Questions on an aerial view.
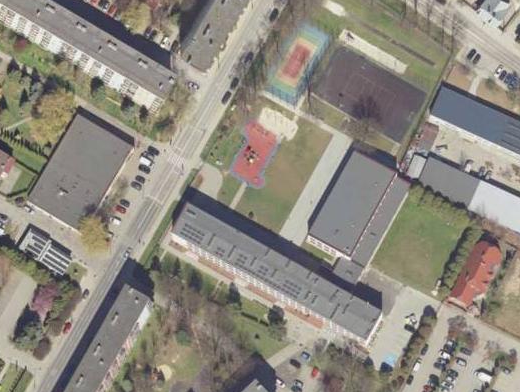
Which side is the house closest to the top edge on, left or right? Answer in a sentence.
It is on the right.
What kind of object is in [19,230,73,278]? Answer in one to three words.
building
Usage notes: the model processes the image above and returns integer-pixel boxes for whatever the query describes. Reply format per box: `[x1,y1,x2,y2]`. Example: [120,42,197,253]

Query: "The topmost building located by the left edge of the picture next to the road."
[0,0,178,111]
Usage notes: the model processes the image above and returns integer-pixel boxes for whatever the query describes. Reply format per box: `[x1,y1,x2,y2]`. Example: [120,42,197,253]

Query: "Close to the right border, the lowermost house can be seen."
[448,240,506,315]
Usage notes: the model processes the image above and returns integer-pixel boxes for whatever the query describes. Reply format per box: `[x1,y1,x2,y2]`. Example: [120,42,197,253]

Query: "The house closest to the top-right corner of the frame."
[477,0,511,29]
